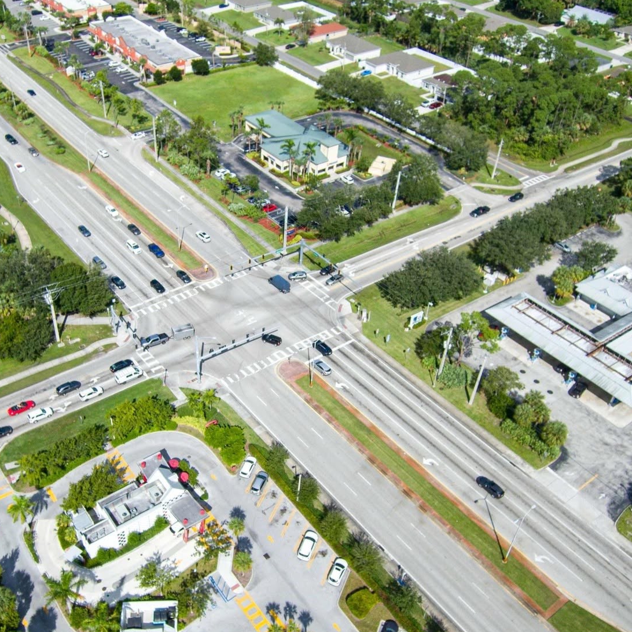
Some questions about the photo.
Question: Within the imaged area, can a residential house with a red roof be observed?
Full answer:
Yes, there is a residential house with a red roof in the image.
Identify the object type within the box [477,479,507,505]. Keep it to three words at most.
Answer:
car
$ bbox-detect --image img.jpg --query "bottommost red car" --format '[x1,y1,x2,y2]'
[7,400,36,418]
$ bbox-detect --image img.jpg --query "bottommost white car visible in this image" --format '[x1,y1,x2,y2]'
[326,557,350,587]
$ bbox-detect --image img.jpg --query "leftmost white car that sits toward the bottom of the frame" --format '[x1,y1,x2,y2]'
[25,407,56,426]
